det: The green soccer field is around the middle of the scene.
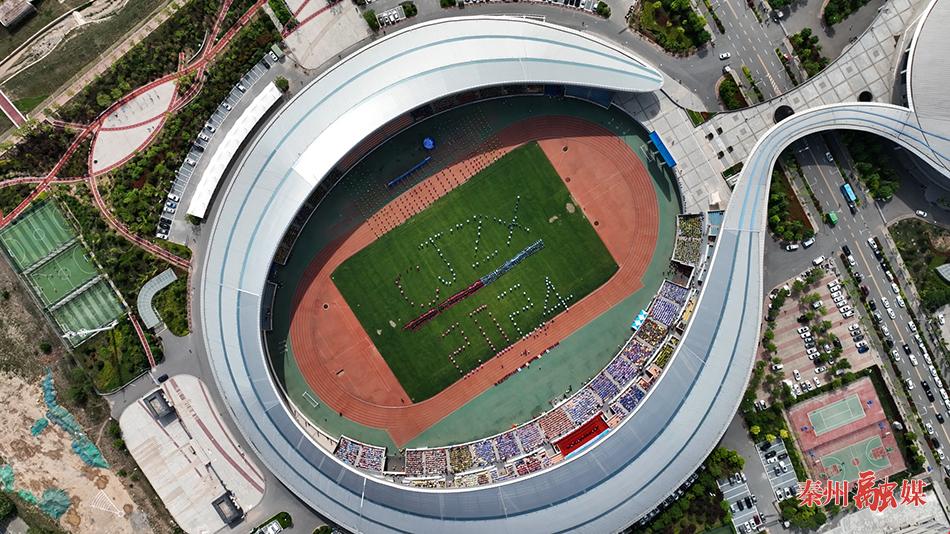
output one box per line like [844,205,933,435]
[330,141,619,402]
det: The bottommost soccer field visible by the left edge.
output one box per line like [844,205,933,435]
[45,277,127,350]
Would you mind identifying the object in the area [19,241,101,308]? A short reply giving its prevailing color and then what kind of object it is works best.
green soccer field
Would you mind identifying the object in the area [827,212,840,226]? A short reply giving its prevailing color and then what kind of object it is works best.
green vehicle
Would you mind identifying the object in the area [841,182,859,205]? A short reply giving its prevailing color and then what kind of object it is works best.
blue vehicle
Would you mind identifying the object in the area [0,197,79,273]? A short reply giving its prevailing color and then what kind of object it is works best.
green soccer field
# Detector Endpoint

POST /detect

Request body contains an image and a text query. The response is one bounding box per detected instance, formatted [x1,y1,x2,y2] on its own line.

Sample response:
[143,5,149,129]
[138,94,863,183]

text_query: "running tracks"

[262,95,690,462]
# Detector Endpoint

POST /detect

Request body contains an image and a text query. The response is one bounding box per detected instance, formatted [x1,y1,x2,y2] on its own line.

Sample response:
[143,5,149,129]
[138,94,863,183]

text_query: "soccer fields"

[330,141,619,402]
[45,277,127,350]
[0,197,79,273]
[19,241,101,308]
